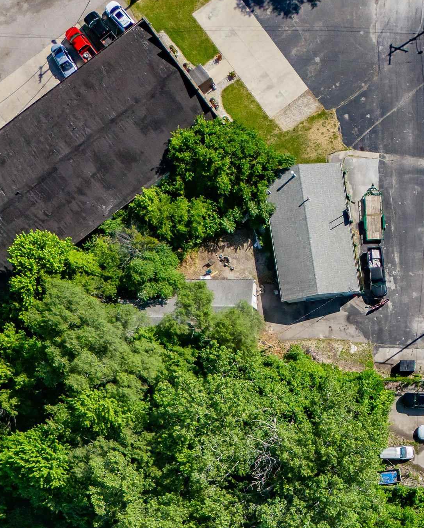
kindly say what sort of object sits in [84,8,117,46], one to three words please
truck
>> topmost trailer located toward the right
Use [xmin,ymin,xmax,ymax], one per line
[360,186,388,241]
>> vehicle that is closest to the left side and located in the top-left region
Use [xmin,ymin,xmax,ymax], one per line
[48,41,77,76]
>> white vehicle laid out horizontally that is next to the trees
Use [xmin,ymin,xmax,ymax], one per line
[379,445,416,462]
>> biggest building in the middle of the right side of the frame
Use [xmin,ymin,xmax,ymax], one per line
[260,163,362,303]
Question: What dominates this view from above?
trees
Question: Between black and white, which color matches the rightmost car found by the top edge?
white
